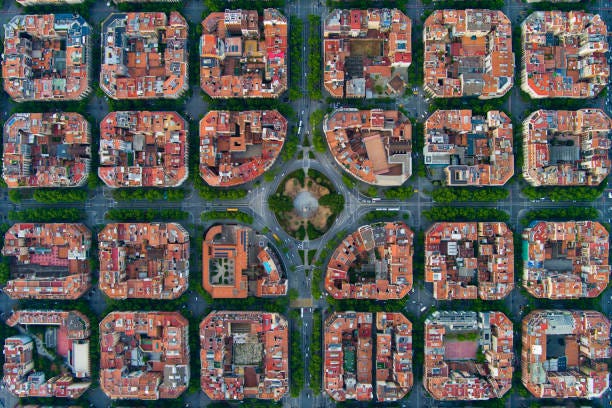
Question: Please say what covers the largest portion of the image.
buildings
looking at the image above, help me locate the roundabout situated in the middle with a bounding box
[267,167,345,241]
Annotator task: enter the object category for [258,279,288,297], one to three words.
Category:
building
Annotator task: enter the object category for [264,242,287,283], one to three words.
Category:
building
